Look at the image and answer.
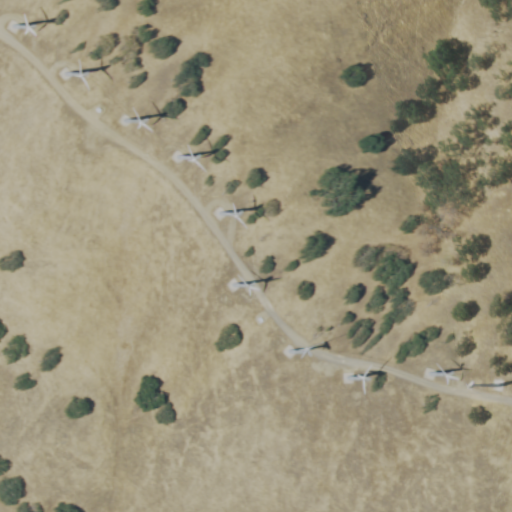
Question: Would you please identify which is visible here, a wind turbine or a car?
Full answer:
Of the two, only a wind turbine appears.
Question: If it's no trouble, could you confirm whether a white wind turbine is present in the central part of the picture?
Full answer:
Yes, a white wind turbine appears in the central part of the picture.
